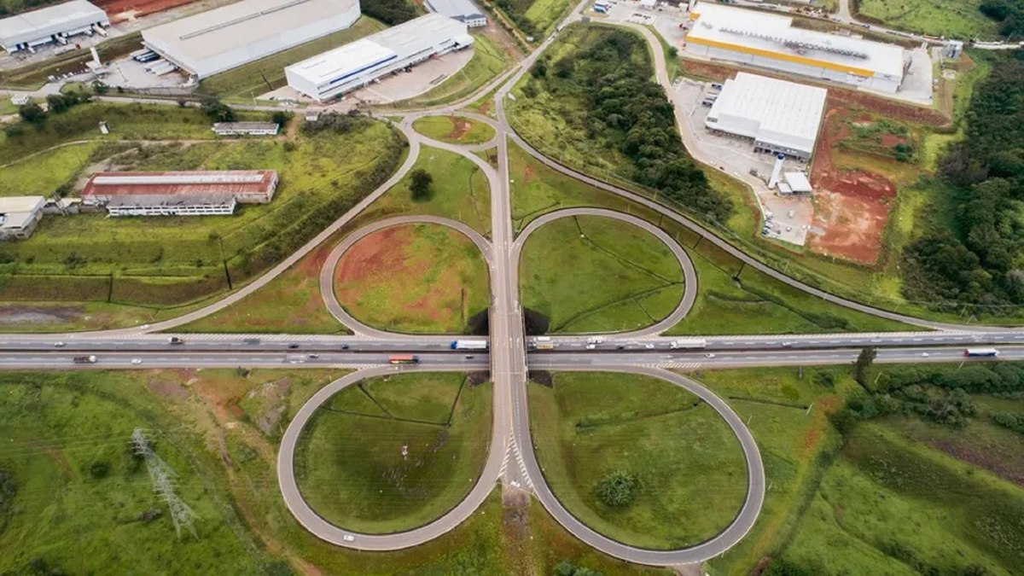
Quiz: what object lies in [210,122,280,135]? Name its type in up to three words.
house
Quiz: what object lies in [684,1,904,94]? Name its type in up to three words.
building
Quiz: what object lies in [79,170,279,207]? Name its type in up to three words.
building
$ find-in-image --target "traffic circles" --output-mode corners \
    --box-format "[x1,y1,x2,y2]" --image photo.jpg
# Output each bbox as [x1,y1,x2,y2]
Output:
[402,111,497,149]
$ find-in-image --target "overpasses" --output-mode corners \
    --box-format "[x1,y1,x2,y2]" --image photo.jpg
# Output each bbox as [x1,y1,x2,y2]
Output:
[489,301,529,384]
